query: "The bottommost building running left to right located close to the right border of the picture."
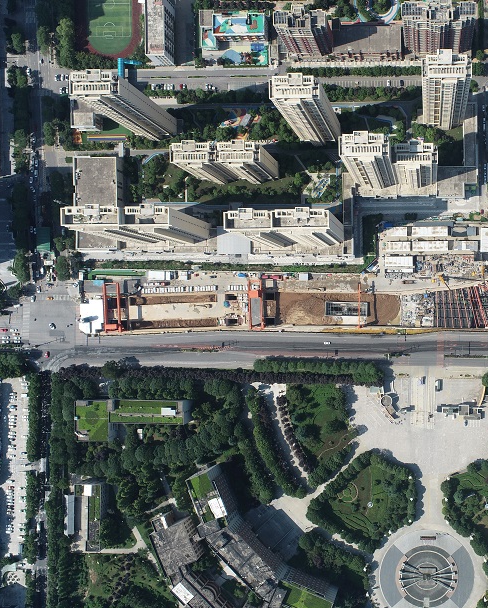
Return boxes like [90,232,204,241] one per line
[441,404,482,420]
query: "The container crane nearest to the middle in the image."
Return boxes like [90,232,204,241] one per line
[246,281,268,328]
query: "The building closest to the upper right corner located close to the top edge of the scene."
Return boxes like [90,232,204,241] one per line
[401,0,475,54]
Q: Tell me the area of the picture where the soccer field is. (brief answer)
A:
top left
